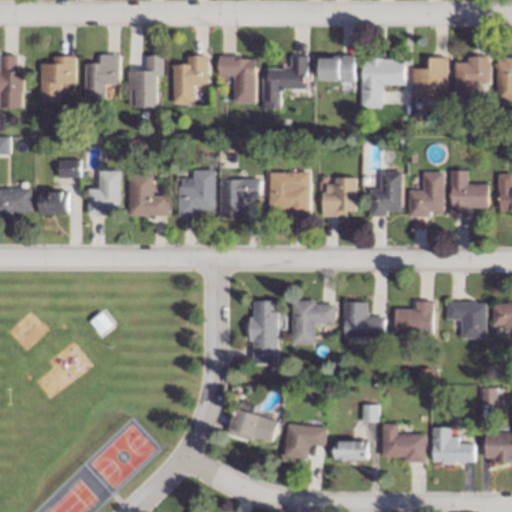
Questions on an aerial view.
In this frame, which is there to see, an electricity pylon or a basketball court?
basketball court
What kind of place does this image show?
residential area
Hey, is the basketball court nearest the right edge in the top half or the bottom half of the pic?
bottom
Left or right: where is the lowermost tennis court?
left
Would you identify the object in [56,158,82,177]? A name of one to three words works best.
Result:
building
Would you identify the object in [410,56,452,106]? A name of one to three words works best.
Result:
house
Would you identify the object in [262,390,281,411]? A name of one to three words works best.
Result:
swimming pool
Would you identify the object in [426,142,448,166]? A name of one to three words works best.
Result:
swimming pool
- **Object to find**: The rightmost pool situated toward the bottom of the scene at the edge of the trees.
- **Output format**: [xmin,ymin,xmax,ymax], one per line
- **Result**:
[316,344,330,358]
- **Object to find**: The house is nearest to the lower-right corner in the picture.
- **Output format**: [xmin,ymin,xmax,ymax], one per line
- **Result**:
[483,435,512,465]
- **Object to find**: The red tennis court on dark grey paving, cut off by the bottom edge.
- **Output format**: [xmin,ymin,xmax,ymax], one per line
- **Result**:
[36,465,112,512]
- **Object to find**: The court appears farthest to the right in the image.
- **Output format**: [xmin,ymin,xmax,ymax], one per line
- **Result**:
[85,418,161,497]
